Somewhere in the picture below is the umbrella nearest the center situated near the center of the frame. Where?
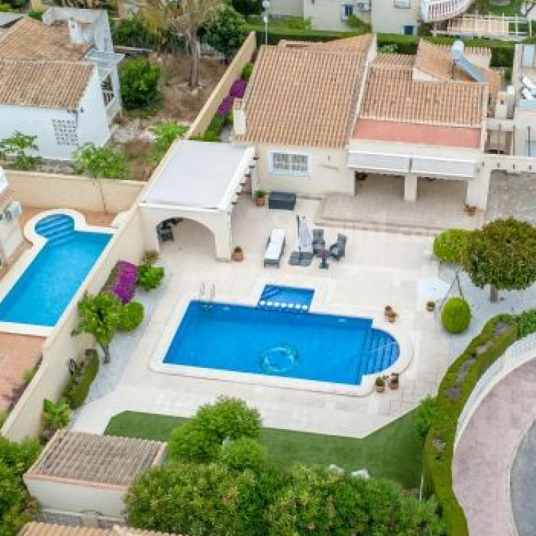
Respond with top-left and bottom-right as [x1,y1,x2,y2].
[289,211,313,266]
